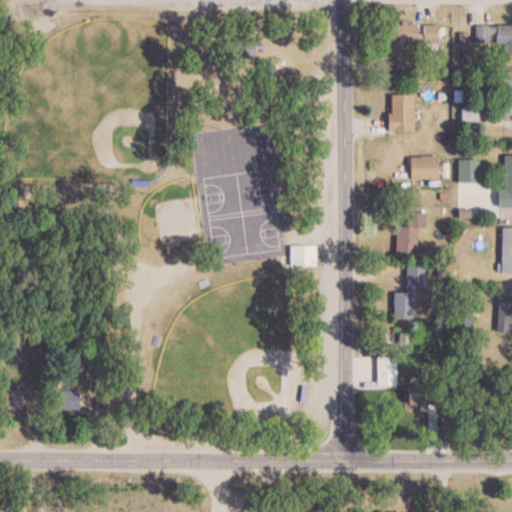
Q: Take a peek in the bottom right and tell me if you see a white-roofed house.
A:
Yes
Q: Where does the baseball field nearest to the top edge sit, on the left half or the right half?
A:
left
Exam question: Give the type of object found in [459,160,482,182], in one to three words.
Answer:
house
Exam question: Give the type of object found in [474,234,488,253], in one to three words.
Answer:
swimming pool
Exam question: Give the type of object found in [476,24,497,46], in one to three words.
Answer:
house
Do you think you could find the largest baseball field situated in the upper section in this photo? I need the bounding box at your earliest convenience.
[5,20,168,180]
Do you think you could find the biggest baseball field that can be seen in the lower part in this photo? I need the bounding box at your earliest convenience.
[154,275,303,430]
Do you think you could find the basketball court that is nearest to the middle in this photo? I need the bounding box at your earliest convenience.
[210,214,280,256]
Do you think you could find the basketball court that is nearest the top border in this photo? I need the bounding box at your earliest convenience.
[204,169,276,216]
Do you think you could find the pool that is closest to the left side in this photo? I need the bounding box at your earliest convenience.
[422,87,436,102]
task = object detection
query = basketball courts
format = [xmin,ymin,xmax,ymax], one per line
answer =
[204,169,276,216]
[210,214,280,256]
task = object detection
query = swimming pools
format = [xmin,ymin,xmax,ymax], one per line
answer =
[422,87,436,102]
[474,234,488,253]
